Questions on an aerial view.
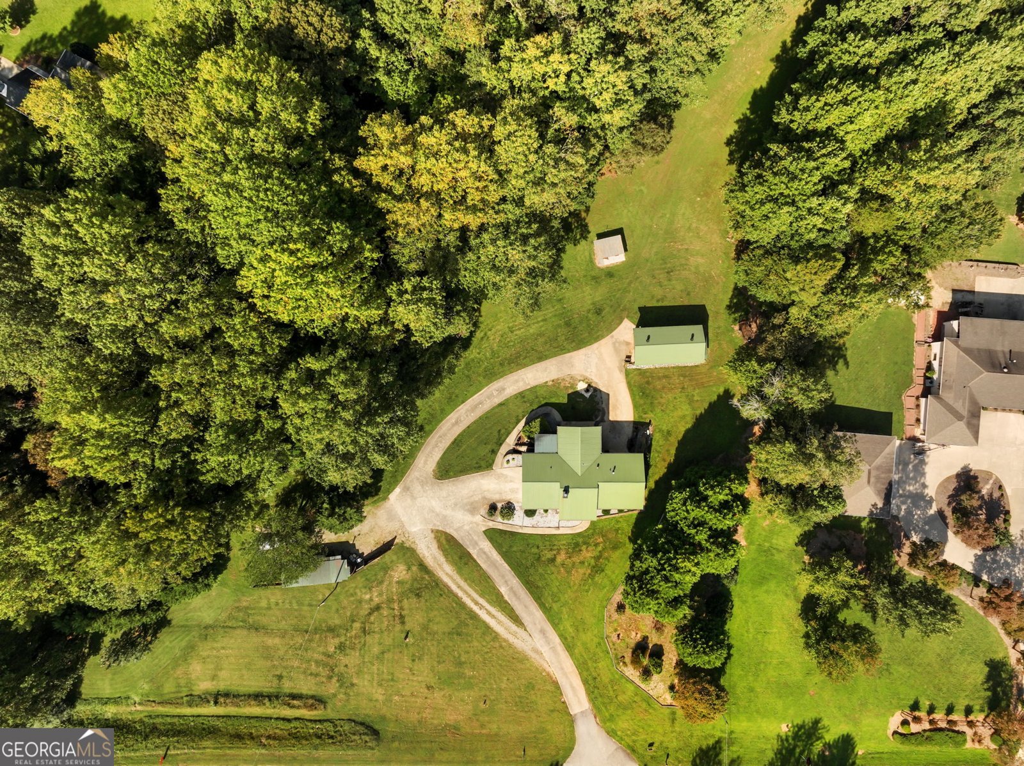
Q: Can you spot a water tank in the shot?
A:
No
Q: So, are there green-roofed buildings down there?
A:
Yes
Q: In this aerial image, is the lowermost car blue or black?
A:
black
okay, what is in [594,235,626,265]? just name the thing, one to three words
shed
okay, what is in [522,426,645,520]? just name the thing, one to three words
house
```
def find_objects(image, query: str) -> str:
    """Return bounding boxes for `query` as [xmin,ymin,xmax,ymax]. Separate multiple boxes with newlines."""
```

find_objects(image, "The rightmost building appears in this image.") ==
[908,316,1024,446]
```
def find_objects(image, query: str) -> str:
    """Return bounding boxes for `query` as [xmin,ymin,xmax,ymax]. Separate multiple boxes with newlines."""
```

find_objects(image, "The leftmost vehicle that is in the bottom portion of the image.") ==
[344,550,367,571]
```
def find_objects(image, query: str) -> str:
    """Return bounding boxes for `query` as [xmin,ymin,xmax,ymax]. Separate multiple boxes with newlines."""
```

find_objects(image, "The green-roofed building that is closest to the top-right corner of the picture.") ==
[631,325,705,366]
